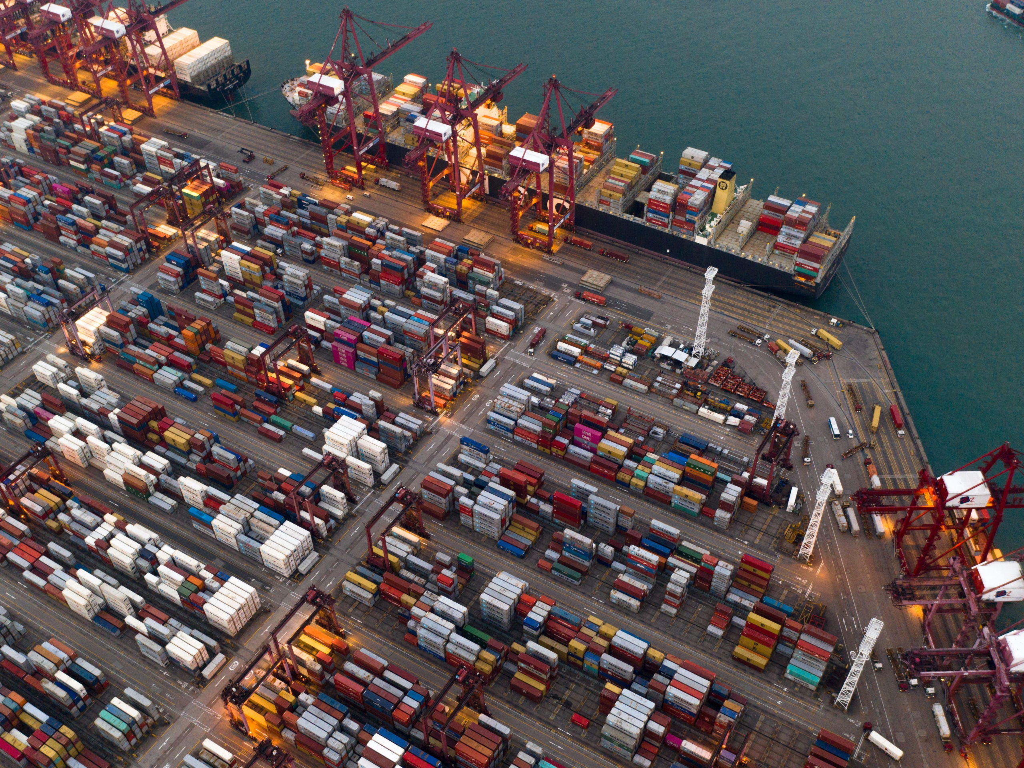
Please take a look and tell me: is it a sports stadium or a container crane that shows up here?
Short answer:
container crane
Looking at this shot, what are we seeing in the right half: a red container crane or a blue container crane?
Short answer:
red container crane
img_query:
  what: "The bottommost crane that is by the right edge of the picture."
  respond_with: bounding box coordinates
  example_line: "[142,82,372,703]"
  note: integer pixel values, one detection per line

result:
[903,627,1024,754]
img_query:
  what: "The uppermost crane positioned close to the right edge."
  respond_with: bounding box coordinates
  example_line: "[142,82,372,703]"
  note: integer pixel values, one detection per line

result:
[849,445,1024,586]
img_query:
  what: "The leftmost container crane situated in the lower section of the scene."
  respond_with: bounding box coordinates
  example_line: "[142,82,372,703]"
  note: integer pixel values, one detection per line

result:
[0,436,75,523]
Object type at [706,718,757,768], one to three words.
container crane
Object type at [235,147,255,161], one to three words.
work vehicle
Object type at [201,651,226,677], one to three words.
shipping container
